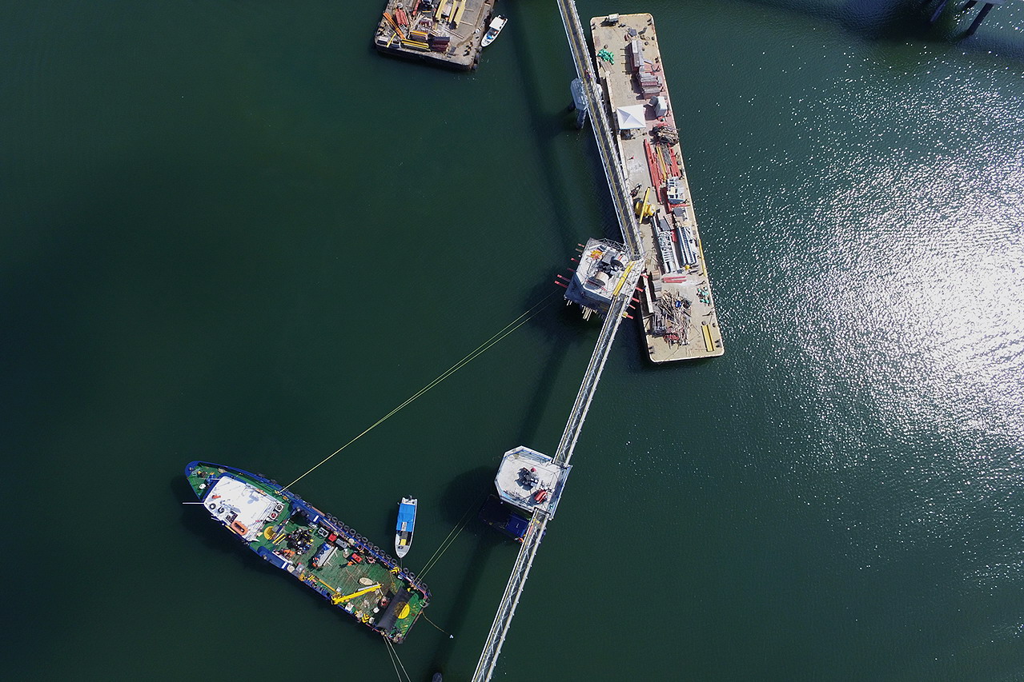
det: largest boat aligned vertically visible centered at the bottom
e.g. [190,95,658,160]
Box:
[395,495,414,558]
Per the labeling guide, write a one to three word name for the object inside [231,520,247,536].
boat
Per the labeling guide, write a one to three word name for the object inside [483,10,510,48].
boat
